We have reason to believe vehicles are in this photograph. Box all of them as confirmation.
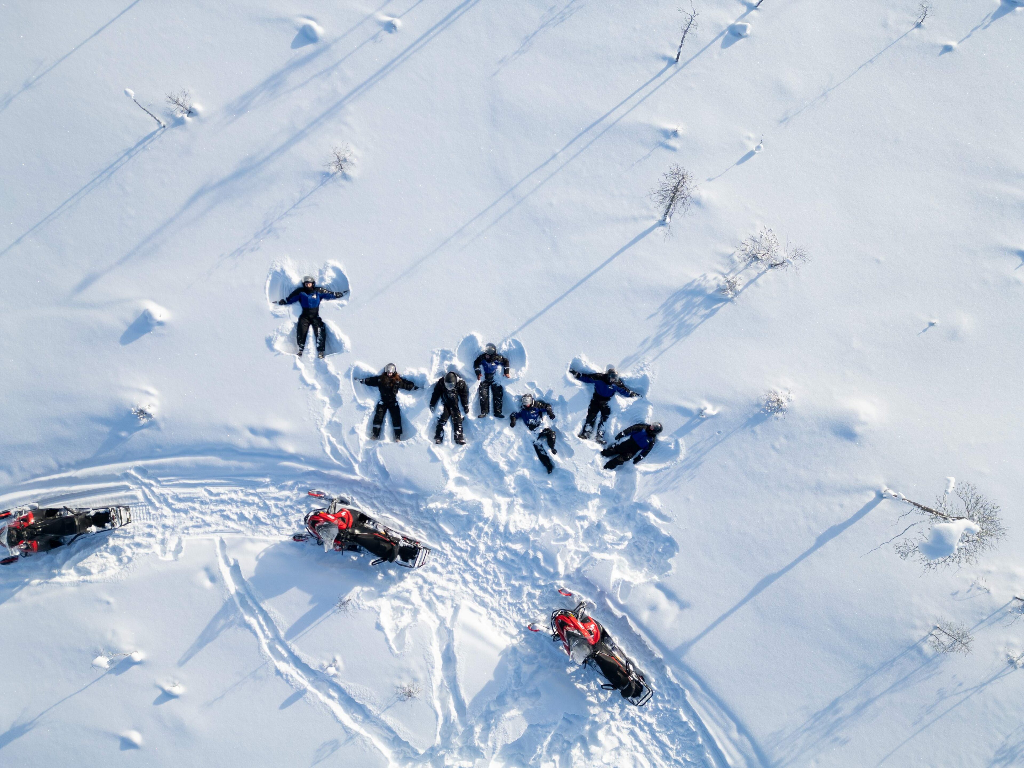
[0,496,127,556]
[524,594,654,706]
[292,493,430,569]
